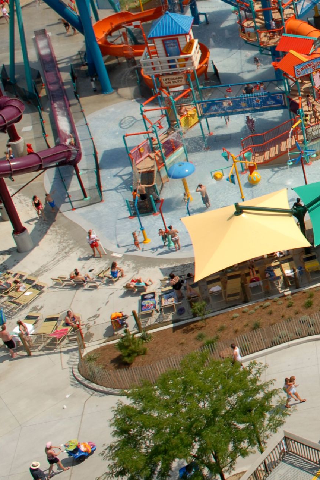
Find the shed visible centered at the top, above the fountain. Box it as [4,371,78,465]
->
[133,12,212,128]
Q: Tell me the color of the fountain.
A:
blue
